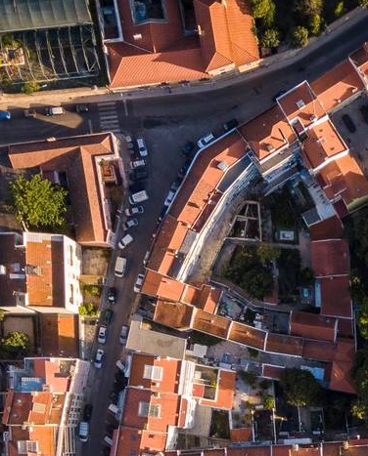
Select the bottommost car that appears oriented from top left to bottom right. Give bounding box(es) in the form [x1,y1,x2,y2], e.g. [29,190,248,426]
[100,433,116,448]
